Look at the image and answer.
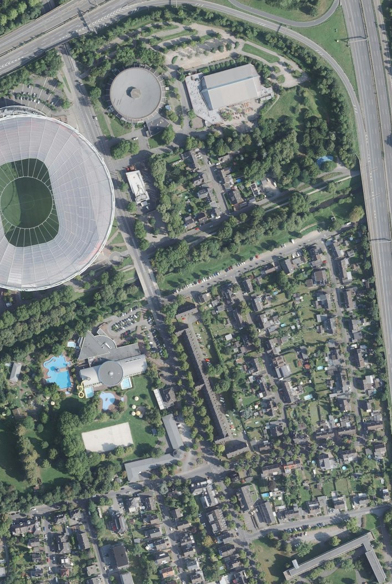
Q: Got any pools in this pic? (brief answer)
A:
Yes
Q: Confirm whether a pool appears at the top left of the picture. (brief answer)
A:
No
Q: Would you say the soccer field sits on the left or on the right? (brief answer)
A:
left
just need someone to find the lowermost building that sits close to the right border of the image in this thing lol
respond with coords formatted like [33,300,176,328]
[285,531,389,584]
